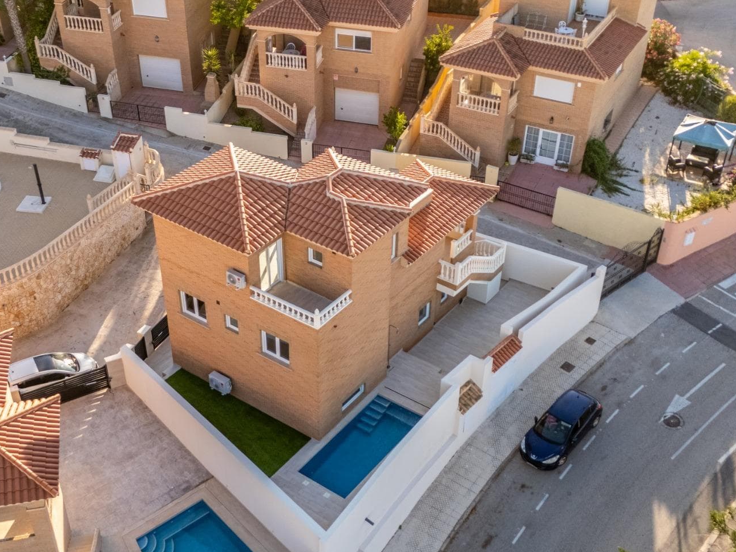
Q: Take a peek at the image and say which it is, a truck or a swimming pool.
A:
swimming pool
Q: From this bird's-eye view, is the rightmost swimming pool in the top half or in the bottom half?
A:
bottom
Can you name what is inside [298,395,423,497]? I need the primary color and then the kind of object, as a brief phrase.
blue swimming pool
